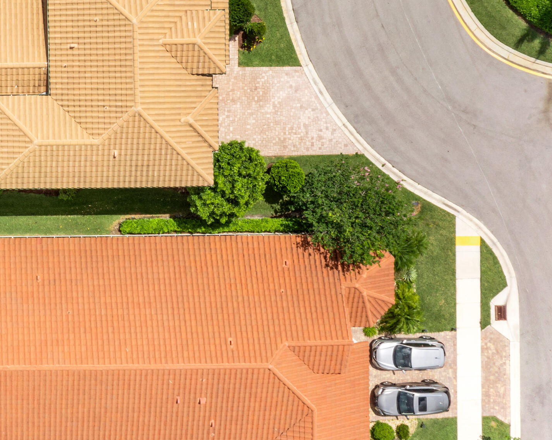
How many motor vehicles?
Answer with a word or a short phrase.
2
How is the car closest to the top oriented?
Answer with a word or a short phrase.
from side to side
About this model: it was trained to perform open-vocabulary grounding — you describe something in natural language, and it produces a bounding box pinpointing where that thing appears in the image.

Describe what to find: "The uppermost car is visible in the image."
[371,335,450,373]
